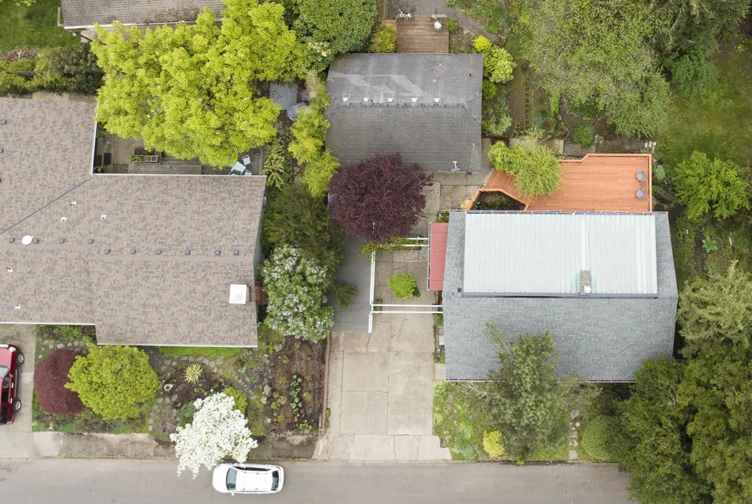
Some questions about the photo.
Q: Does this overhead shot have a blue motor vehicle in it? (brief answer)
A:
No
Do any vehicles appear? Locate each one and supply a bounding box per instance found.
[0,343,24,424]
[212,462,287,497]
